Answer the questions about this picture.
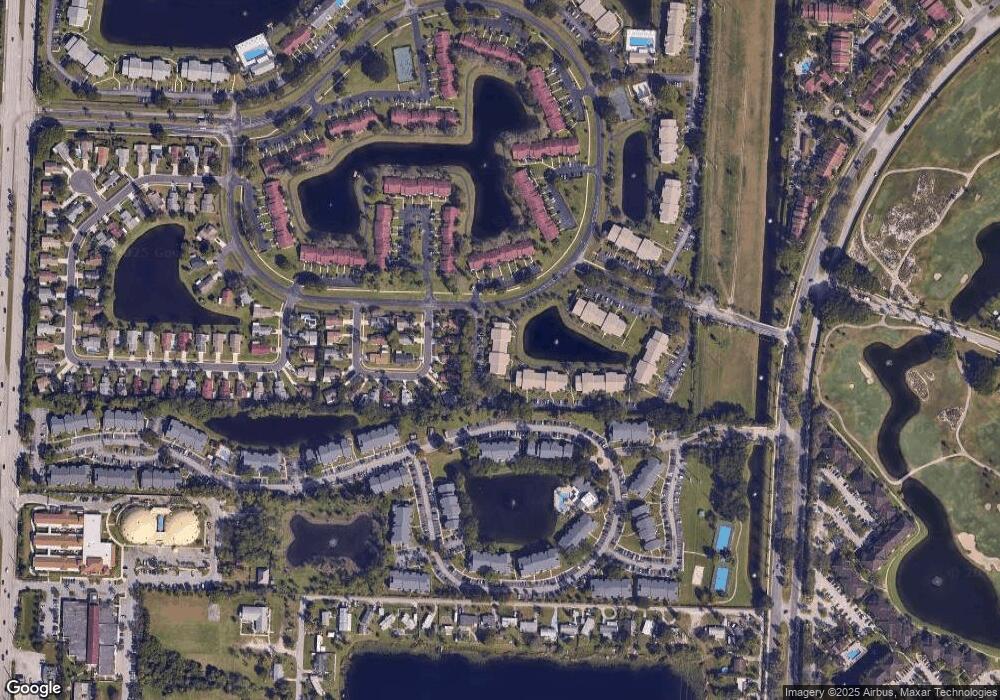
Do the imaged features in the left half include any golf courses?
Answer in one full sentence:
No, no golf course is visible in the left half.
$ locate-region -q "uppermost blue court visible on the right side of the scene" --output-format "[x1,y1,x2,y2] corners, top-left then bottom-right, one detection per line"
[713,521,734,555]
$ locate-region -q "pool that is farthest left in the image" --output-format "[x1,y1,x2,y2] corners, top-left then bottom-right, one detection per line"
[234,35,271,69]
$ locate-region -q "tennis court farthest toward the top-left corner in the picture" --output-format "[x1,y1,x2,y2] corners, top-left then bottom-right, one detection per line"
[394,46,411,84]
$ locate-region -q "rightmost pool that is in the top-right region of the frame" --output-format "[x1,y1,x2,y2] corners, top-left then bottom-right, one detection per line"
[797,58,812,75]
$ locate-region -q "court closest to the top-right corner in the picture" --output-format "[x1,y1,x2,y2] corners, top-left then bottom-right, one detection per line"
[605,86,635,122]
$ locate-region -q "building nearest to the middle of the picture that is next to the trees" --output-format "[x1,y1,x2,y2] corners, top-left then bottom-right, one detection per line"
[488,323,512,376]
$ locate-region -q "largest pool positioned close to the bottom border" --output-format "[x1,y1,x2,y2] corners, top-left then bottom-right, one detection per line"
[840,640,868,667]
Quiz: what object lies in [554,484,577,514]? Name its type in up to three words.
swimming pool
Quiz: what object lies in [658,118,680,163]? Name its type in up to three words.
building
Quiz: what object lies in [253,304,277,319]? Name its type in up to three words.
house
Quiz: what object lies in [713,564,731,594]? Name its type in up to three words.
tennis court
